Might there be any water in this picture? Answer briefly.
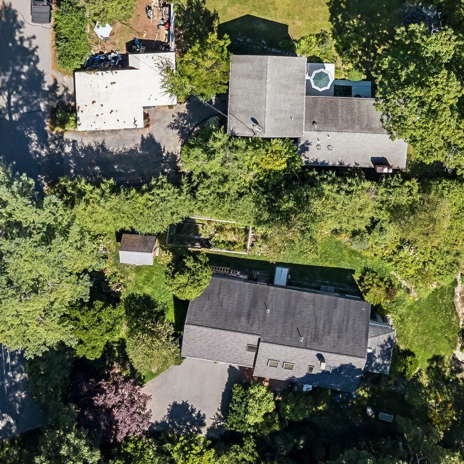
No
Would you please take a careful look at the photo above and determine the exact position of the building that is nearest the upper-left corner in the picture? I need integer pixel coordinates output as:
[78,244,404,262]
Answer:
[75,53,178,131]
